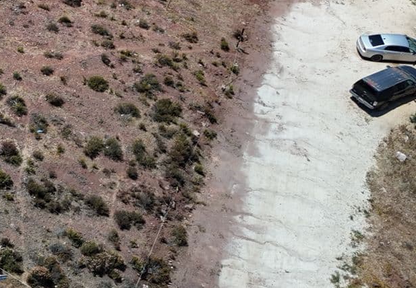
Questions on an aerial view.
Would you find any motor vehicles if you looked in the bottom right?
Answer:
No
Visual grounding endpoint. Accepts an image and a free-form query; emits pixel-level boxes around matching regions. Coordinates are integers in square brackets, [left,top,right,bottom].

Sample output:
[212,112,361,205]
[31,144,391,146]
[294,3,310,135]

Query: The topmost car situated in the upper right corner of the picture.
[354,32,416,65]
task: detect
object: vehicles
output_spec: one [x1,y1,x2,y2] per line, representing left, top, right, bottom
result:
[354,32,416,65]
[357,60,416,110]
